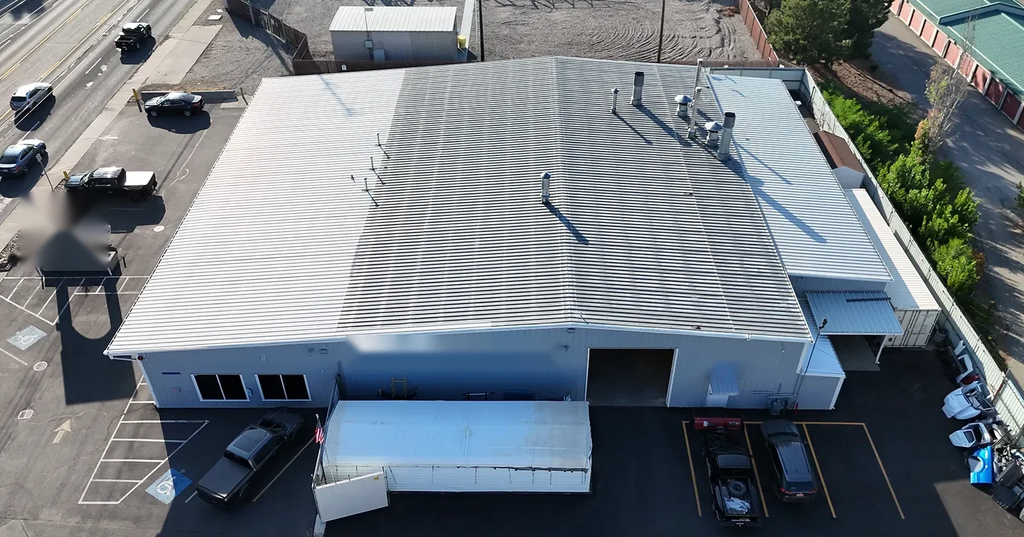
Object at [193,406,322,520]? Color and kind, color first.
black truck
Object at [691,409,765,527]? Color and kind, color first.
black truck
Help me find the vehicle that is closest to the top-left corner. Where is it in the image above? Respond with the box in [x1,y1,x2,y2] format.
[6,84,57,116]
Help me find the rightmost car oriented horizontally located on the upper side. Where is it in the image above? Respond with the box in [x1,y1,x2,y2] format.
[138,88,211,115]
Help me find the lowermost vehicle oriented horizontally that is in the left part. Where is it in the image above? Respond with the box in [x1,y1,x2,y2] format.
[65,155,166,194]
